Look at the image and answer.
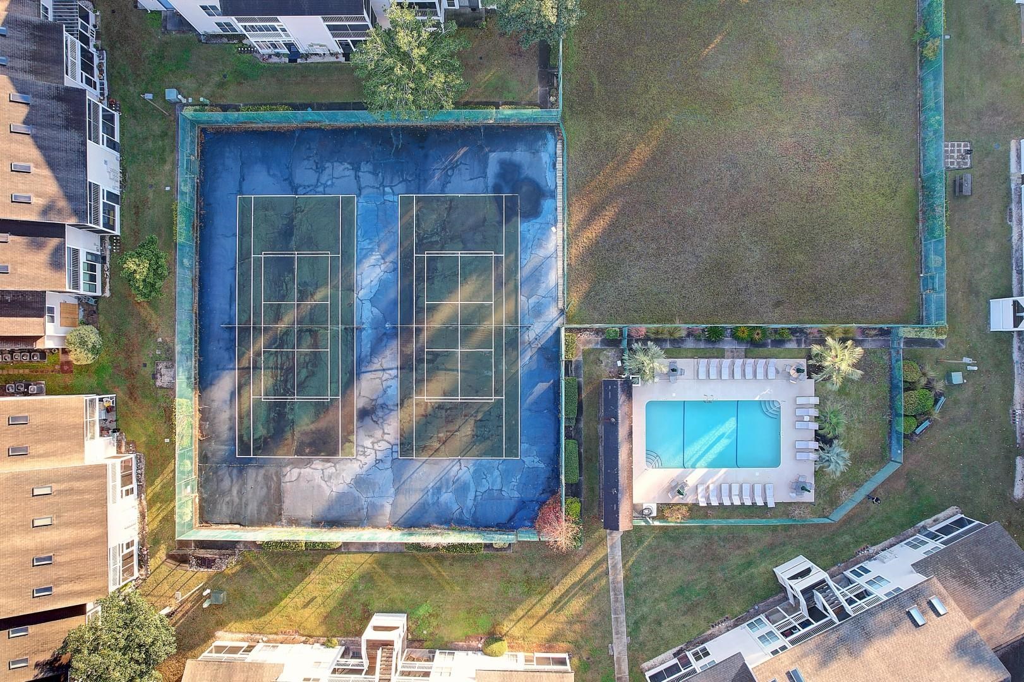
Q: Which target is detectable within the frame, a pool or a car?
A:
pool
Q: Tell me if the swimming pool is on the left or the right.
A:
right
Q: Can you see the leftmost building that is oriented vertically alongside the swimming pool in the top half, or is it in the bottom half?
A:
bottom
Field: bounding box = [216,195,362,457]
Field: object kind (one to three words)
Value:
tennis court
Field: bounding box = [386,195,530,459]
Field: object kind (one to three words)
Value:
tennis court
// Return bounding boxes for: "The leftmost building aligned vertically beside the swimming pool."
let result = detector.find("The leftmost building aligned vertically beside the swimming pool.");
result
[601,379,633,533]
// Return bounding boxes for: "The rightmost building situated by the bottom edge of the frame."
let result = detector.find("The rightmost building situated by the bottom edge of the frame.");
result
[645,513,1024,682]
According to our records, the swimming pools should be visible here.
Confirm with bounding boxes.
[643,396,785,471]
